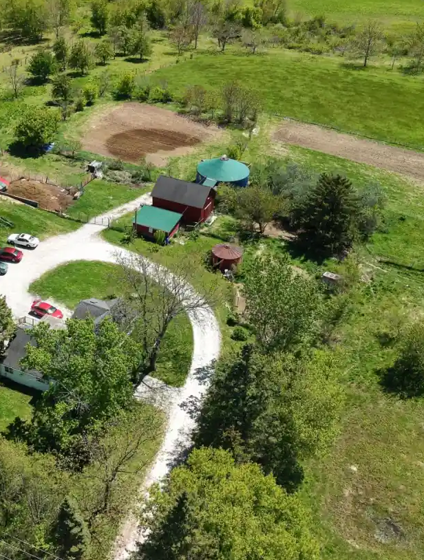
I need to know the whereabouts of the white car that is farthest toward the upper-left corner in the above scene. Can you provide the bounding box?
[8,234,39,249]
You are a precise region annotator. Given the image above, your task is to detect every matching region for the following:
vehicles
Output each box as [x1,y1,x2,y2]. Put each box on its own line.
[0,262,10,275]
[27,299,60,316]
[8,234,39,249]
[0,248,24,263]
